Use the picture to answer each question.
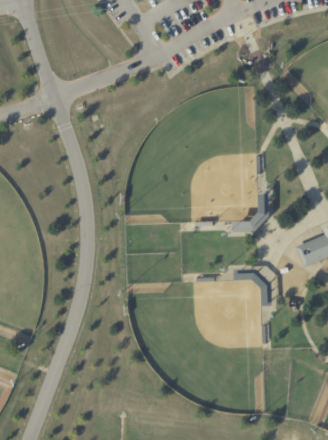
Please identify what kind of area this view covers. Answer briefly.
sports ground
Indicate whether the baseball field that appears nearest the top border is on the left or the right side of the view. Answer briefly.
right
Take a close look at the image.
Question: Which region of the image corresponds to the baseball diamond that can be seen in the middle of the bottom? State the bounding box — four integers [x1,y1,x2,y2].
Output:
[128,280,264,414]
